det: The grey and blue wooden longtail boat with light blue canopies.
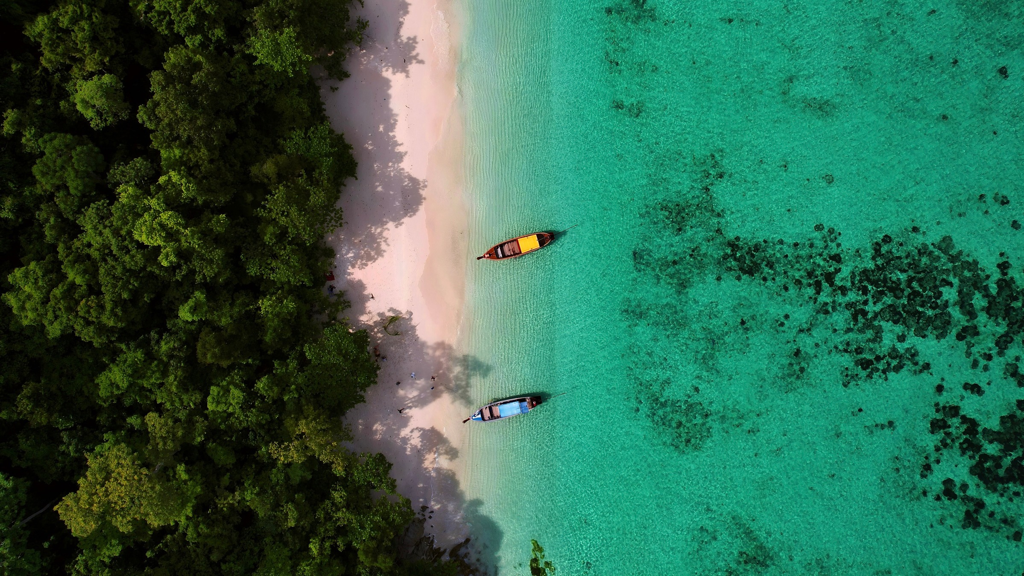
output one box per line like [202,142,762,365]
[461,391,564,424]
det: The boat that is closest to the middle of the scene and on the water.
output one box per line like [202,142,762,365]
[475,223,576,260]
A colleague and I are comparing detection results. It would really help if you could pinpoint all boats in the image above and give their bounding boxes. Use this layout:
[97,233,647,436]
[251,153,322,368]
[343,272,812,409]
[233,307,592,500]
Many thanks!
[461,391,564,424]
[475,223,576,260]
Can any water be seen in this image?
Yes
